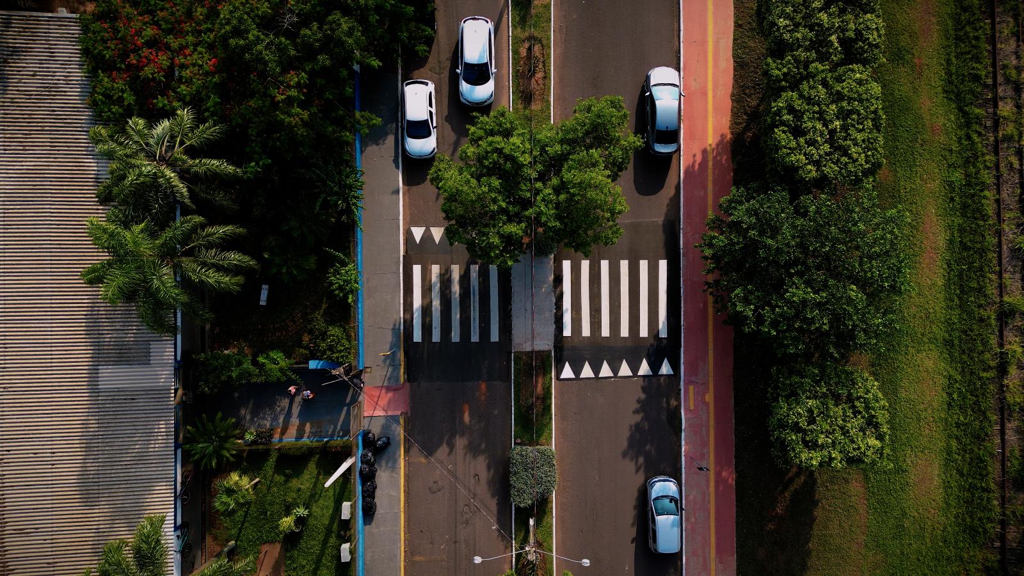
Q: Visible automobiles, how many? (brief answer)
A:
4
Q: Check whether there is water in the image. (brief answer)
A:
No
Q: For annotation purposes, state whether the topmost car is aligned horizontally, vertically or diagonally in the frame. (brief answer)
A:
vertically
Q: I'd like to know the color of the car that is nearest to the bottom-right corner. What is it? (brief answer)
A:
blue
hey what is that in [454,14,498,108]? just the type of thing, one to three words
car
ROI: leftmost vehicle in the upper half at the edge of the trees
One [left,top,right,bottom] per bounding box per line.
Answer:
[399,76,440,162]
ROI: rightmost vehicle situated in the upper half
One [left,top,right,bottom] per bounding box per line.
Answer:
[644,68,686,156]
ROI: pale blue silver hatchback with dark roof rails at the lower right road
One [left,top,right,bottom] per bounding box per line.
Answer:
[645,473,686,557]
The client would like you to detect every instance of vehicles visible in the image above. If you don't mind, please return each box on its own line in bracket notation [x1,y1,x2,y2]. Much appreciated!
[454,14,498,108]
[645,473,686,557]
[644,68,686,156]
[399,76,440,162]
